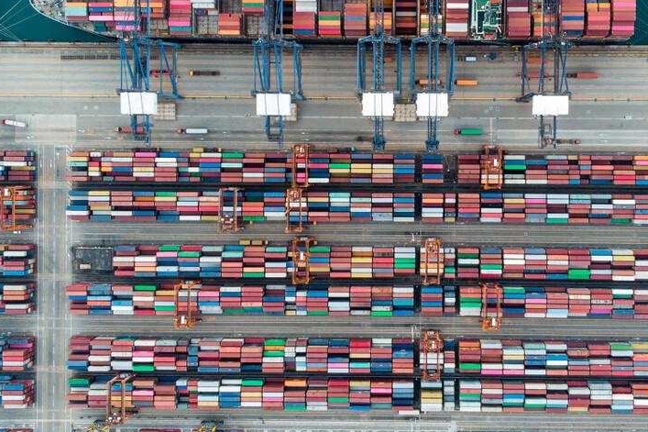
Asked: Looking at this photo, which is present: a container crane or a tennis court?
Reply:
container crane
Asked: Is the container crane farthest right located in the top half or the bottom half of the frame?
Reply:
top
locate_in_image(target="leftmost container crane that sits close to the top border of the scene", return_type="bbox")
[118,0,184,143]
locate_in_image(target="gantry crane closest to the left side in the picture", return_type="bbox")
[0,182,34,232]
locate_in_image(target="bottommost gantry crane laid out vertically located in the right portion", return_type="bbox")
[420,323,442,380]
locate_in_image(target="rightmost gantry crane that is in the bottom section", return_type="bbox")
[477,276,501,331]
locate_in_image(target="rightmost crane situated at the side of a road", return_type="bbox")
[519,0,572,146]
